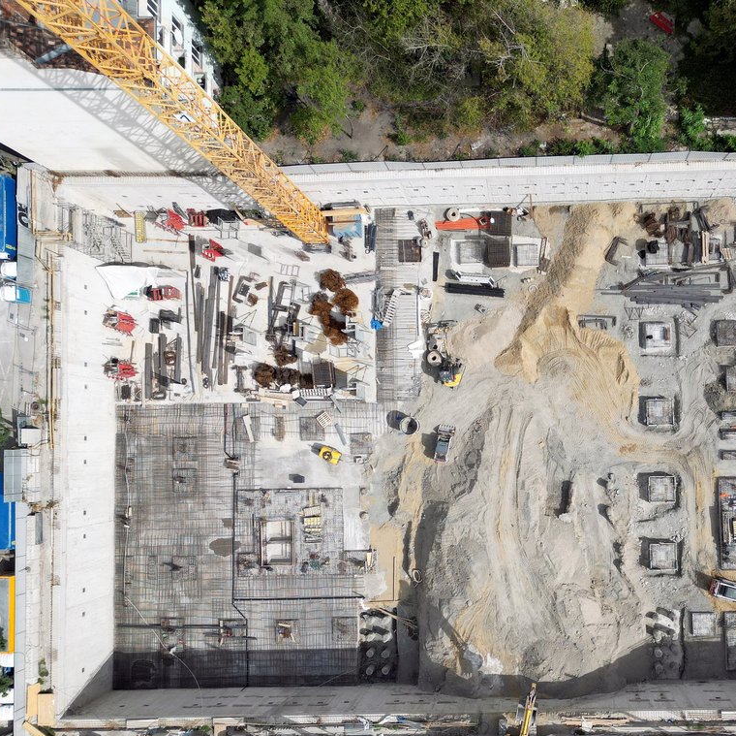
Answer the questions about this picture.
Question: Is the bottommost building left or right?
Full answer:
The bottommost building sits on the left side.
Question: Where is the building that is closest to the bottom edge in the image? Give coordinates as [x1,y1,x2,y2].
[3,450,44,501]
